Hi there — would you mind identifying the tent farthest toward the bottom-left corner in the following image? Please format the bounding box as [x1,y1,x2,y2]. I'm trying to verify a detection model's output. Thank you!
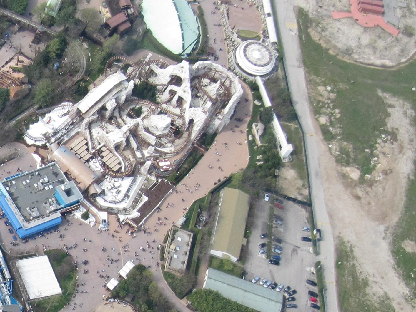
[15,255,61,312]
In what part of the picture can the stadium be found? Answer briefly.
top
